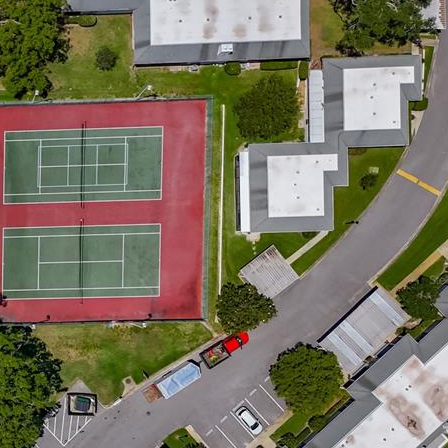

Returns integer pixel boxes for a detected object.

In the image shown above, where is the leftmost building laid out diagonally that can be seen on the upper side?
[235,55,422,233]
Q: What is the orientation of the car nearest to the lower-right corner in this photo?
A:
at an angle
